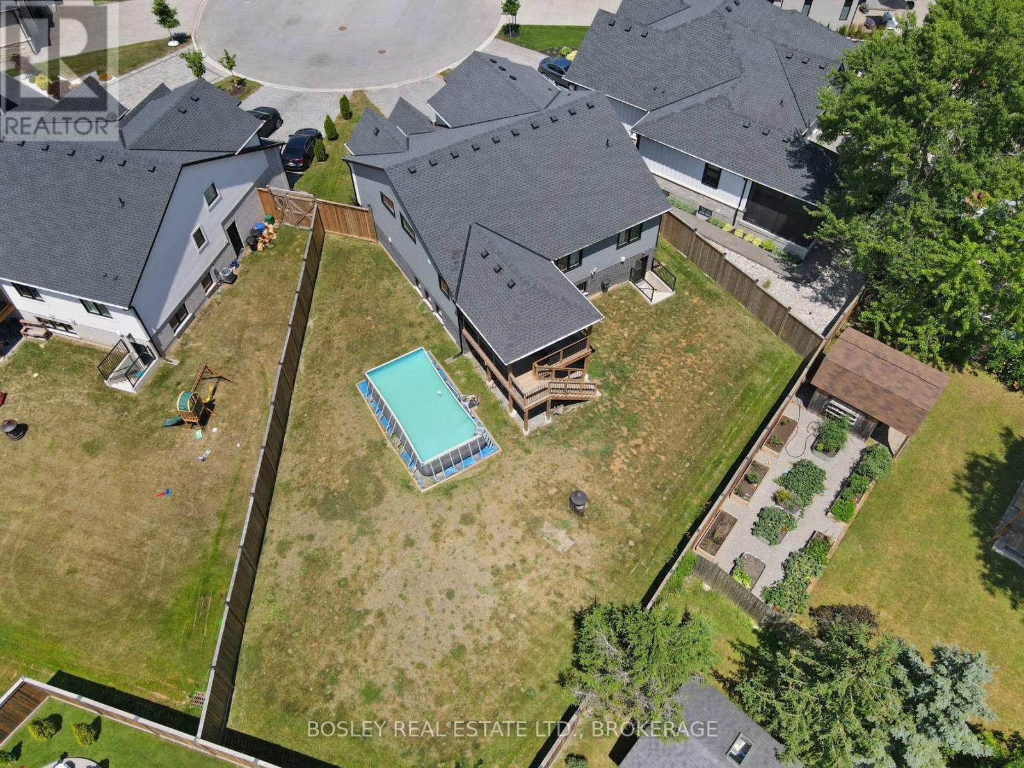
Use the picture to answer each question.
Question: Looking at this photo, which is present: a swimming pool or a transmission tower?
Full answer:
Of the two, only a swimming pool appears.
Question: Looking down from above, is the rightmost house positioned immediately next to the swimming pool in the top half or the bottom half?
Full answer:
Seen from above, the rightmost house positioned immediately next to the swimming pool lies in the top half of the view.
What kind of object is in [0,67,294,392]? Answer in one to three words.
house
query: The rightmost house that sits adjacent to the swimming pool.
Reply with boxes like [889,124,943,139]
[341,50,677,373]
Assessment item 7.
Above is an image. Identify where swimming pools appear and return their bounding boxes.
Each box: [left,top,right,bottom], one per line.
[363,345,488,480]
